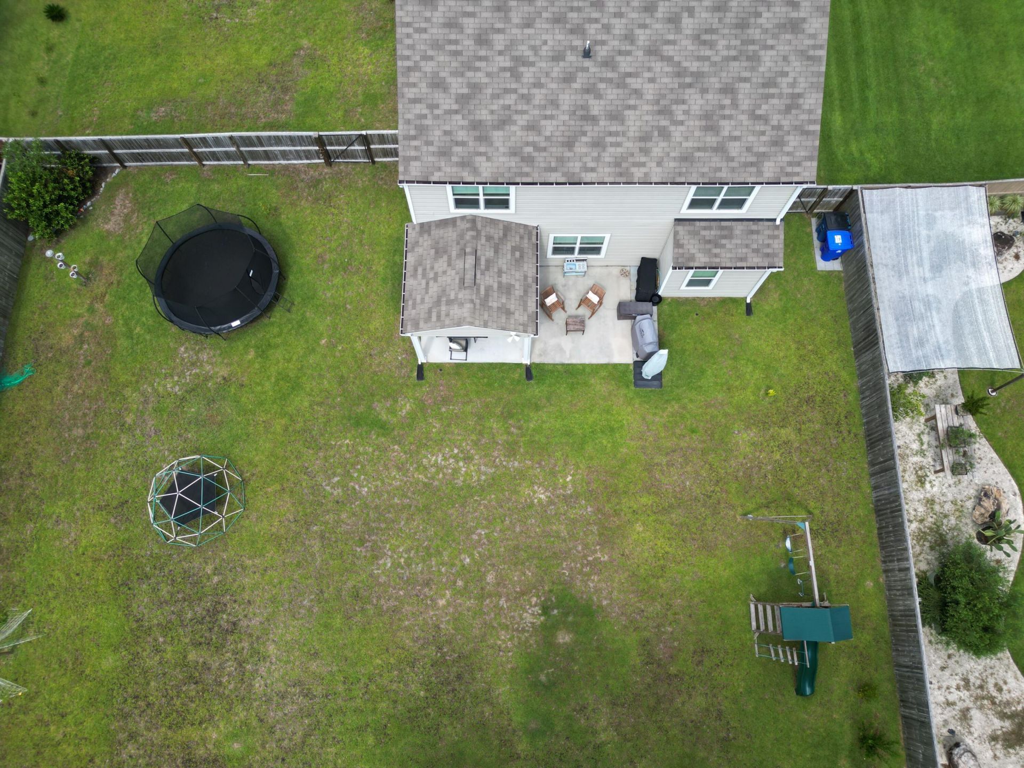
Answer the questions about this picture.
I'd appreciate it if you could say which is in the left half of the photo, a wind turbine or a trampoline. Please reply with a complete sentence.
The feature located in the left half of the photo is a trampoline.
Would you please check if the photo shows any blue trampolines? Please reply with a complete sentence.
No, there appears to be no blue trampoline in this shot.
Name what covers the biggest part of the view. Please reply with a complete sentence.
The largest share of the image is taken up by grass.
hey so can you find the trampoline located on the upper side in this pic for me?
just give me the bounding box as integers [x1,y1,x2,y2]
[134,201,292,345]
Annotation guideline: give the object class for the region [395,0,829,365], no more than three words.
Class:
house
